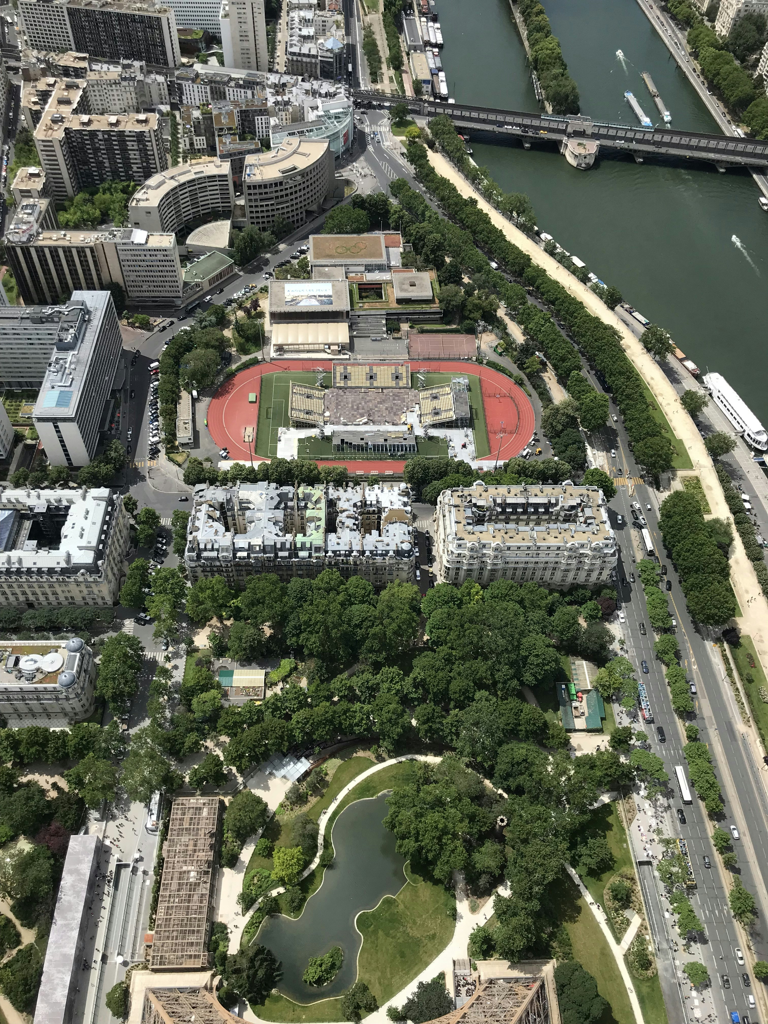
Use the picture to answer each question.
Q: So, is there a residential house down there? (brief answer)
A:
Yes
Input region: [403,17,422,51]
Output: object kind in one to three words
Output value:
shed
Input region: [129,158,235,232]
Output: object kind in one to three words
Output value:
building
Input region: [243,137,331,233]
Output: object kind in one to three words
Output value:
building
